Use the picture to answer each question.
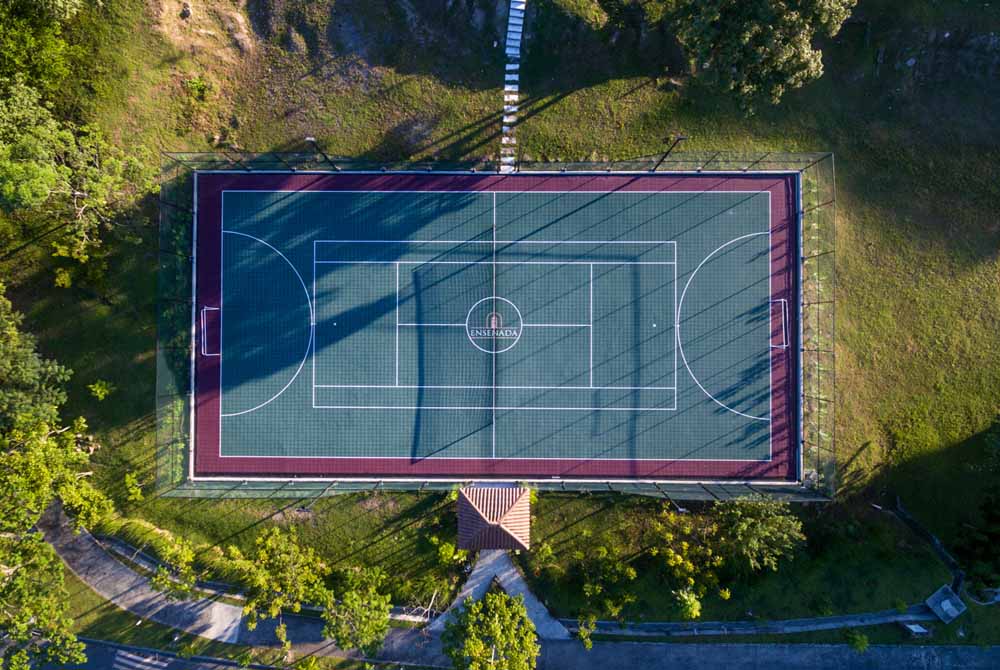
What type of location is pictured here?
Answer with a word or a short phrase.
sports ground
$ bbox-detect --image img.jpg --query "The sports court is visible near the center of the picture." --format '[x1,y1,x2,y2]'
[188,169,805,483]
